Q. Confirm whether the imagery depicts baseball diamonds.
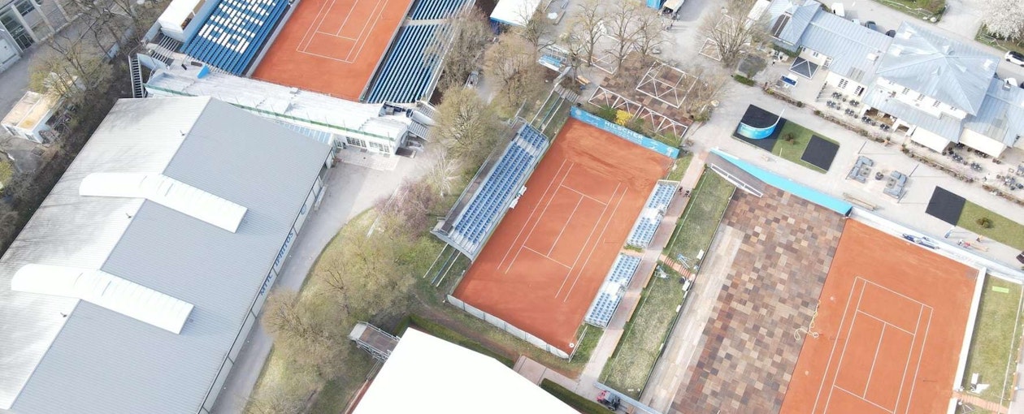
No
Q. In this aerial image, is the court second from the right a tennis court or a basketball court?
tennis court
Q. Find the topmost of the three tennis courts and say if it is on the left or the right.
left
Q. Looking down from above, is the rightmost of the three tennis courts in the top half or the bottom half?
bottom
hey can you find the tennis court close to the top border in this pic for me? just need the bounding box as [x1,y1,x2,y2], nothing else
[252,0,413,99]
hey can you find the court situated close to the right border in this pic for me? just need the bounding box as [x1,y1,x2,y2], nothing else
[782,218,979,414]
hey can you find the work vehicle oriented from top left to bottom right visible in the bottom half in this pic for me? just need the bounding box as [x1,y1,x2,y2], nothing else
[596,390,629,414]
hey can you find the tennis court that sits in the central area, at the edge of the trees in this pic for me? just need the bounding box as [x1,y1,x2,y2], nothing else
[452,117,674,360]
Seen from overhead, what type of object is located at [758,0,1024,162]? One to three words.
building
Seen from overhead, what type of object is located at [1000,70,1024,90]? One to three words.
vehicle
